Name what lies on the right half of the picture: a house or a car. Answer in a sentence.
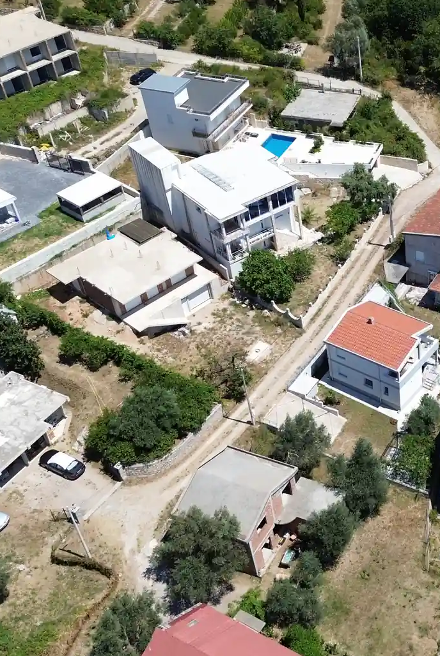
It is a house that can be seen on the right half of the picture.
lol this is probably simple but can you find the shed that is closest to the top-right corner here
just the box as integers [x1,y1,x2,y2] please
[281,90,370,135]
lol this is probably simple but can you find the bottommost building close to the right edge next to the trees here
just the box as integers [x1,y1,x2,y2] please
[326,304,440,411]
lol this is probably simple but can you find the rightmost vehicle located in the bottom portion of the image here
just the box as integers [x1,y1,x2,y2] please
[40,454,85,480]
